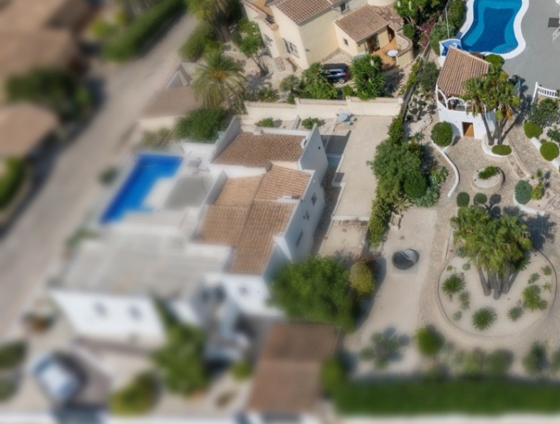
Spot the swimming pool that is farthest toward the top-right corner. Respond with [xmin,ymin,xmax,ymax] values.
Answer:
[452,0,531,59]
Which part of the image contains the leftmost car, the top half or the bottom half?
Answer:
bottom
